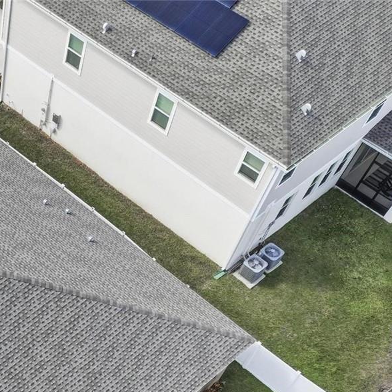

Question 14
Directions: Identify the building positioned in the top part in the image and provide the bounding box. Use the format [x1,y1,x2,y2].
[0,0,392,271]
